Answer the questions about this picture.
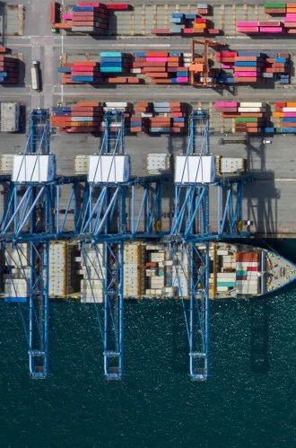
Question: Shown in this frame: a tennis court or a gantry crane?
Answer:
gantry crane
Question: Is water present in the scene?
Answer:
Yes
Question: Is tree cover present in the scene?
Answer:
No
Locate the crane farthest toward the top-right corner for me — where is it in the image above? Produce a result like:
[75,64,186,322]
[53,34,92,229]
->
[187,40,228,89]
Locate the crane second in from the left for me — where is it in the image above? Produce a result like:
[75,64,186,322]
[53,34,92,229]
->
[73,108,186,378]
